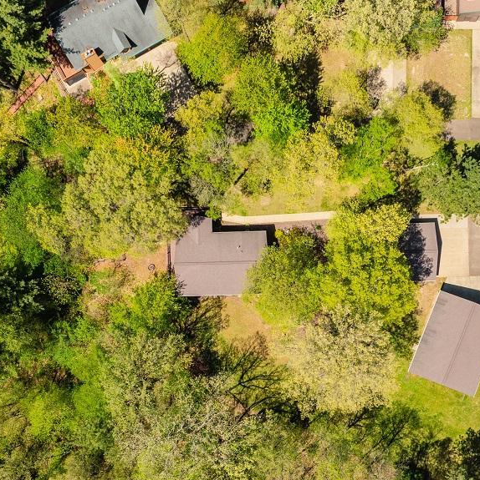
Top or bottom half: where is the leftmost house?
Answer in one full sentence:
The top half of the photo is where the leftmost house is.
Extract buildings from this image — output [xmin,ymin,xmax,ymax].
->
[408,291,480,397]
[397,221,438,282]
[171,208,267,295]
[43,0,172,87]
[439,0,480,21]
